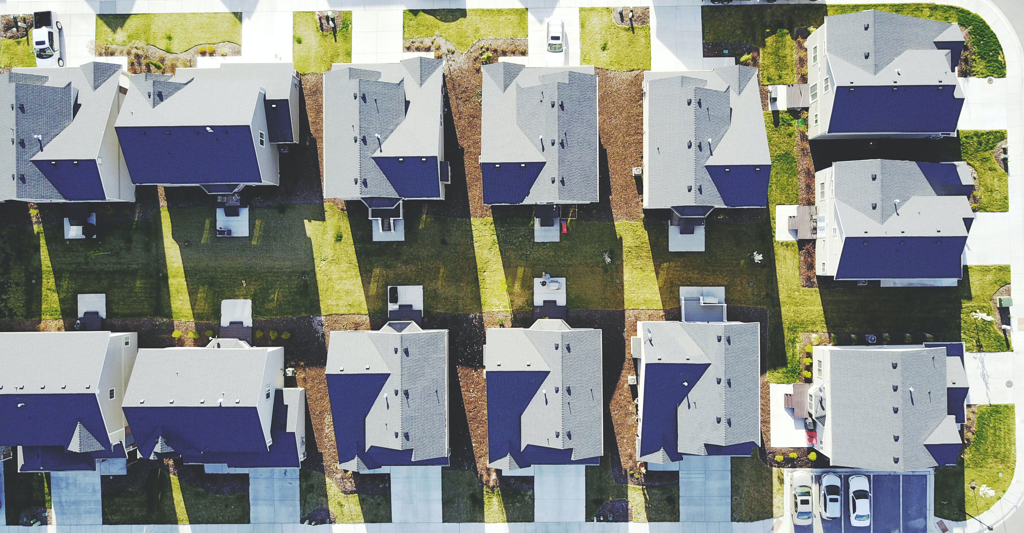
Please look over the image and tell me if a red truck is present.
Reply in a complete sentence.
No, I find no red truck anywhere in the image.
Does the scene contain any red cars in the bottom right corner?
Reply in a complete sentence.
No, I see no red car in the bottom right corner.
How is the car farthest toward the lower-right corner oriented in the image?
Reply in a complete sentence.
In this picture, the car farthest toward the lower-right corner is oriented from top to bottom.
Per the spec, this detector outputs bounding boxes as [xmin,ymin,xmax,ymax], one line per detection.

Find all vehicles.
[759,0,819,5]
[845,473,871,526]
[544,18,568,65]
[36,9,67,66]
[817,471,842,519]
[789,469,814,523]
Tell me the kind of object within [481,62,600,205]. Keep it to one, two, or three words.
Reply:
house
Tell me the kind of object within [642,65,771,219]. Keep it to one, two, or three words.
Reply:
house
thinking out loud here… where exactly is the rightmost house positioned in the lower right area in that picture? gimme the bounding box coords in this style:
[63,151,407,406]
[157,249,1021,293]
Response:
[807,341,969,474]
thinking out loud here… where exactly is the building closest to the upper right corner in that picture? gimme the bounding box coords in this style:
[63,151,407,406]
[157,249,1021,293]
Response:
[806,10,965,140]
